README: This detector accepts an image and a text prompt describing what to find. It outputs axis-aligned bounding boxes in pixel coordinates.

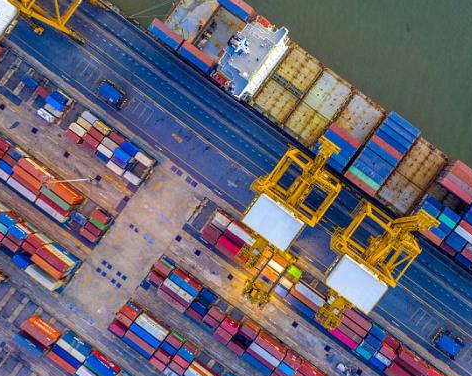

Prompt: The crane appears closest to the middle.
[223,134,346,279]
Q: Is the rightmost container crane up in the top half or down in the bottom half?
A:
bottom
